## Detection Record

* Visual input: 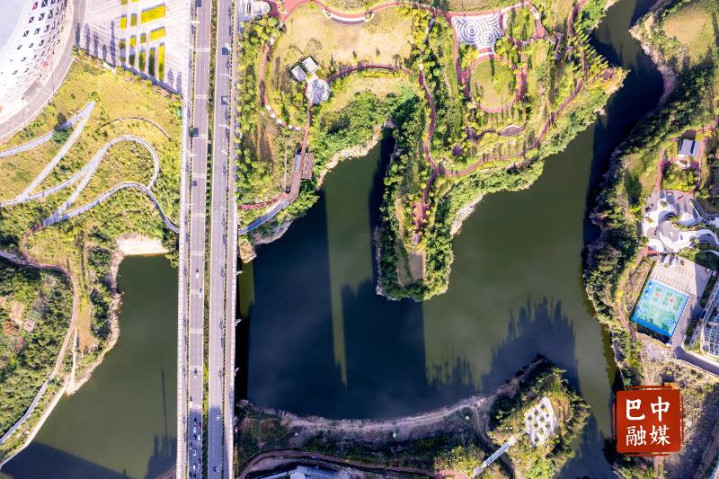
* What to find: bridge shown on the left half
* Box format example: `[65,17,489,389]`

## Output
[175,0,243,479]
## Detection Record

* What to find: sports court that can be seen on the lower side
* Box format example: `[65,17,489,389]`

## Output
[632,279,691,338]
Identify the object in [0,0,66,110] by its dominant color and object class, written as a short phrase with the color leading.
white stadium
